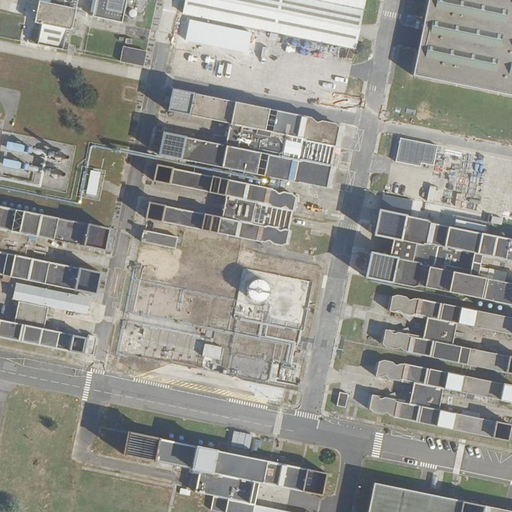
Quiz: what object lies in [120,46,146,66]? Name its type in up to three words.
shed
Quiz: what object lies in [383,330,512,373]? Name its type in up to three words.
building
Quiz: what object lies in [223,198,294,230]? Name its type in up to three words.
building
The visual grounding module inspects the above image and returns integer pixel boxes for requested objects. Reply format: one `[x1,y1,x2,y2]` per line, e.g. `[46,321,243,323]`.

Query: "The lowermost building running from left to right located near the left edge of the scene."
[0,321,96,354]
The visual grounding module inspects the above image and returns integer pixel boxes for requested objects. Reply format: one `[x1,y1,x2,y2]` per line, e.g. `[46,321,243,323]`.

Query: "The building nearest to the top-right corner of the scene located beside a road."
[412,0,512,98]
